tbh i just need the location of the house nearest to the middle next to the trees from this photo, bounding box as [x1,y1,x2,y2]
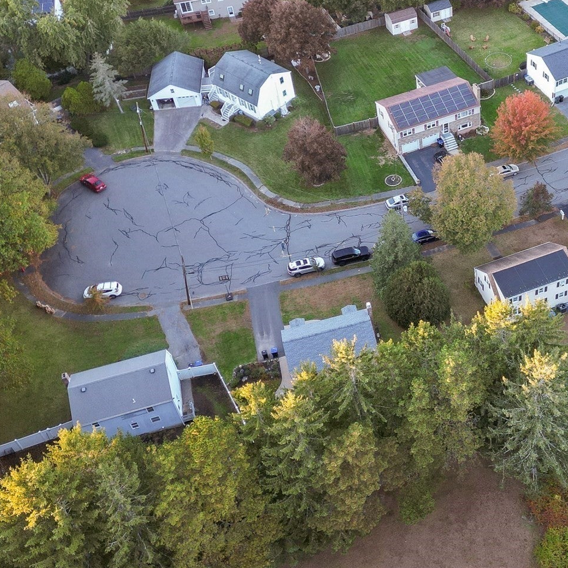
[280,298,376,389]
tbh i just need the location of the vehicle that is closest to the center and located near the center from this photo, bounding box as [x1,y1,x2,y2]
[286,257,325,279]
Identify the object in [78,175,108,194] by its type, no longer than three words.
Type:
car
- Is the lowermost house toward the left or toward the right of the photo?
left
